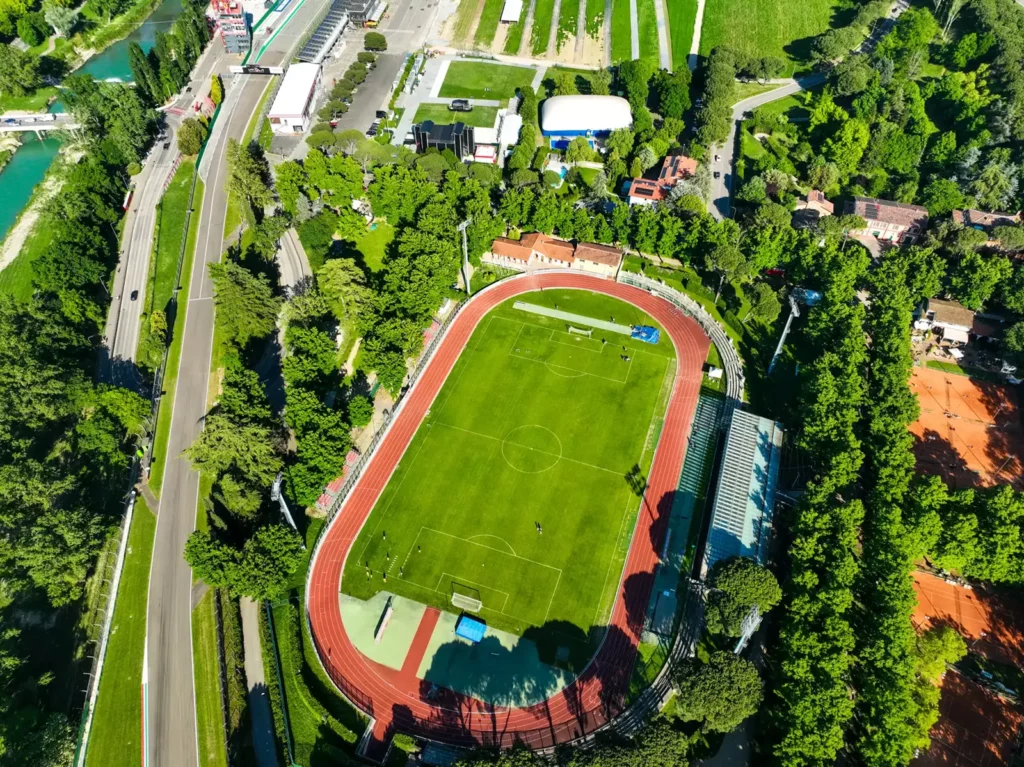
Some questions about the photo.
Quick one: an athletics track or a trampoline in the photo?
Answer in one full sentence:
The image shows an athletics track.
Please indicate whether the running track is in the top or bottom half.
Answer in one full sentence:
It is in the bottom half that the running track appears.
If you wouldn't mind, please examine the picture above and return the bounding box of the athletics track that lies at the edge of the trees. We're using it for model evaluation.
[308,273,712,762]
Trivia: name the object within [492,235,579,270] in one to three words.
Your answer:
building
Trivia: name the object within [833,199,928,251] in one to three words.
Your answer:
house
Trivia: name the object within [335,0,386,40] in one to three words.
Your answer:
building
